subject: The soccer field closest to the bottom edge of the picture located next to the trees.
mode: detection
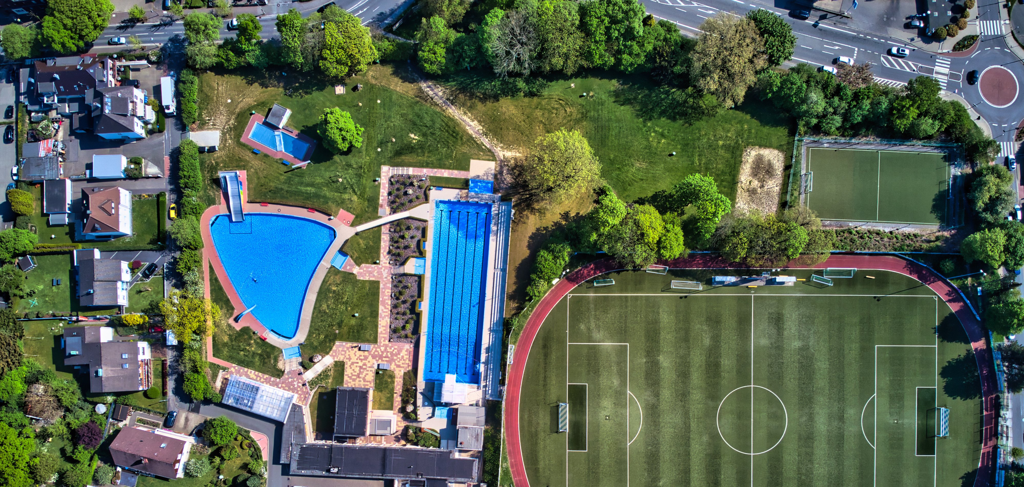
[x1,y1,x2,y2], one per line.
[519,269,983,487]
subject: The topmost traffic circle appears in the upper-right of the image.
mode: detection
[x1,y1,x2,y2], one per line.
[979,65,1019,107]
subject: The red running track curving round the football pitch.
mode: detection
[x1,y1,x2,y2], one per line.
[504,254,1000,487]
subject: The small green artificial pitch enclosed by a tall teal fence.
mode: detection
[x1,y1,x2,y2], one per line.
[805,145,952,227]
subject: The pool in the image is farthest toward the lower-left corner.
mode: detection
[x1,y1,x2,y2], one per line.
[208,211,339,342]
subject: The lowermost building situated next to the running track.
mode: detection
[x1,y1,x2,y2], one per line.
[290,441,478,487]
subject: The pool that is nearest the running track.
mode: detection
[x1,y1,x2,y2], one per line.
[421,198,495,386]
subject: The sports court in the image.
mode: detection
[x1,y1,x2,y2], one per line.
[733,145,787,215]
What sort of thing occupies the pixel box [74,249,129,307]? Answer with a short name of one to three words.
house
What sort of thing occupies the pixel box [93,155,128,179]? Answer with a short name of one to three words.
building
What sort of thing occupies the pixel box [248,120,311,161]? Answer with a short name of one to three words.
swimming pool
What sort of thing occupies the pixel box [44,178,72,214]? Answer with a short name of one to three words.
building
